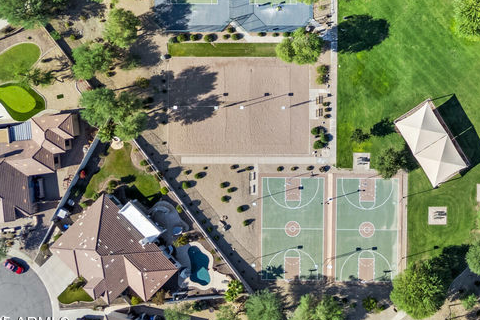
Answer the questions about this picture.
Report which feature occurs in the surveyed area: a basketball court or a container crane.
basketball court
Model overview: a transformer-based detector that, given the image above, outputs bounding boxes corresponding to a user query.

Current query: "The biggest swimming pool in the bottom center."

[187,244,213,288]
